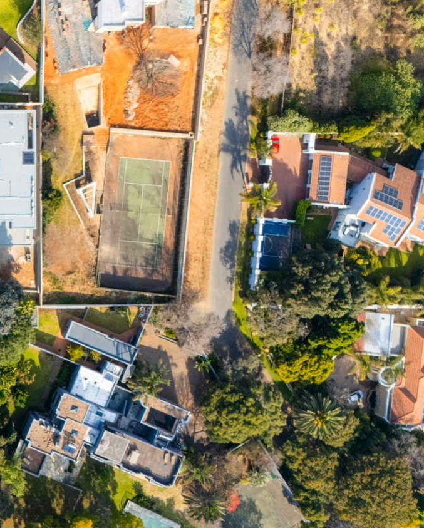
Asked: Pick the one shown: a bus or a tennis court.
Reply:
tennis court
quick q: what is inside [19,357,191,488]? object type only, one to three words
house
